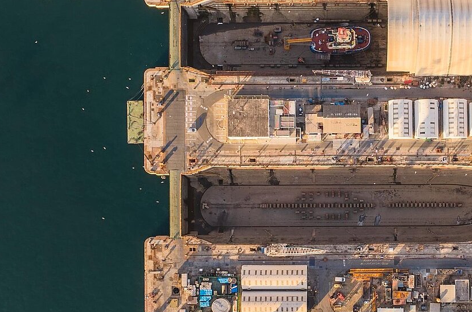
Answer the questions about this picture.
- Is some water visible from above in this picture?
Yes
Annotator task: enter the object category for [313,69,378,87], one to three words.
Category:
crane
